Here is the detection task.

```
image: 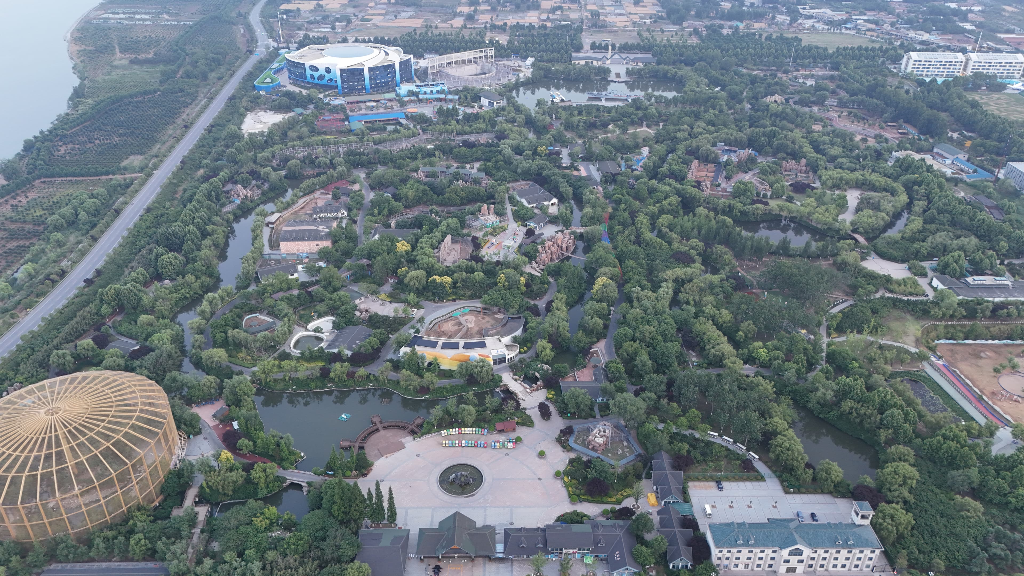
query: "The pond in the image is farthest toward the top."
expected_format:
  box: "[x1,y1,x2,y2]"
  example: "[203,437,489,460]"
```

[509,78,684,113]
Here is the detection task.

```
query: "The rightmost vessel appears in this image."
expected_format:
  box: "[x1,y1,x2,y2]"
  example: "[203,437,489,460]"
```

[587,82,645,99]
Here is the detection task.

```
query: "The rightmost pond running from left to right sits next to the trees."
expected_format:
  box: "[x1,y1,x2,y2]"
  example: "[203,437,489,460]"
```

[732,201,910,249]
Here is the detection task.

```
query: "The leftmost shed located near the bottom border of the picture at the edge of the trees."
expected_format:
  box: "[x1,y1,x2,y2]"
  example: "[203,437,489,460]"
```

[347,528,413,576]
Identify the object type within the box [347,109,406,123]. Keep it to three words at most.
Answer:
building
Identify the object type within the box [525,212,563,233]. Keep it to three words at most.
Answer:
building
